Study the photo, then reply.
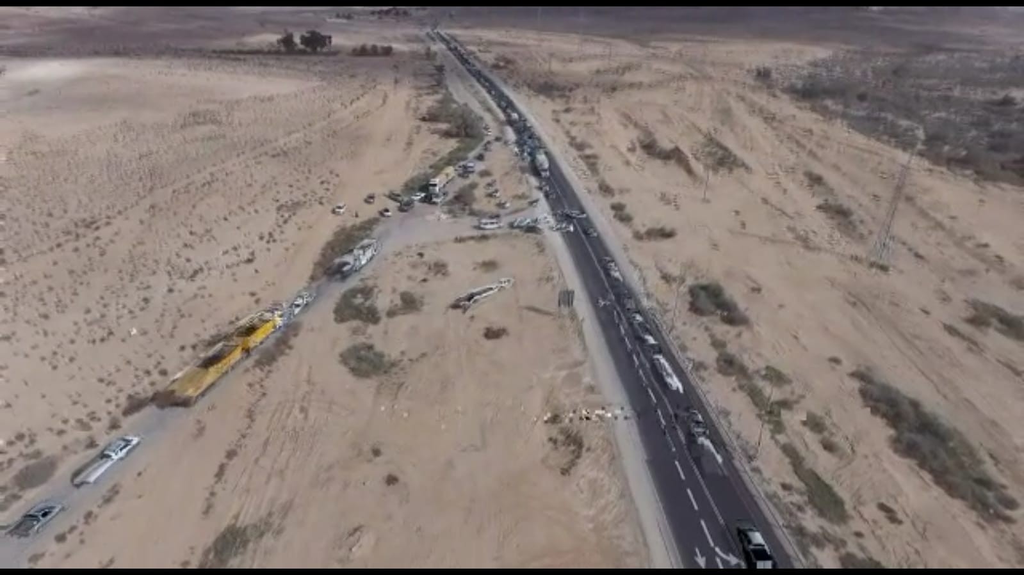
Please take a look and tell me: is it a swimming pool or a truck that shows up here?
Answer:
truck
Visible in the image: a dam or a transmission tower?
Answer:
transmission tower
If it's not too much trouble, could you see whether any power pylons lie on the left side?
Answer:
No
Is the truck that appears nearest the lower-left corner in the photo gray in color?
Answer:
Yes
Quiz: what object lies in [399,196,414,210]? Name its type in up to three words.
car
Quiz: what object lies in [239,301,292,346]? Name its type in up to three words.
truck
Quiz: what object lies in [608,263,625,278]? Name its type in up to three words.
car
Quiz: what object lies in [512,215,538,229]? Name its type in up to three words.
vehicle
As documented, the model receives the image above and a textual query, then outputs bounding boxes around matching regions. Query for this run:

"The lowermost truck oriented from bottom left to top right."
[0,495,64,539]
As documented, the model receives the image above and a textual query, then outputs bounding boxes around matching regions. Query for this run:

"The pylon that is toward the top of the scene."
[866,130,931,267]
